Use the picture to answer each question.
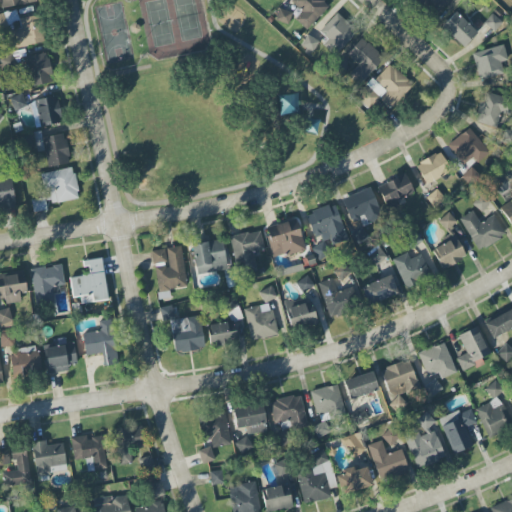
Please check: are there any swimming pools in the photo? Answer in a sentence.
Yes, this view includes a swimming pool.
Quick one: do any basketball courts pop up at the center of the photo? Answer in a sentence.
No, I see no basketball court at the center of the photo.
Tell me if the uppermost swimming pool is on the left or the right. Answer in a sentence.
It is on the left.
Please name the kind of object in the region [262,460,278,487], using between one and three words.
swimming pool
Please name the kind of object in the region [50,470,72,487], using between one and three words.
swimming pool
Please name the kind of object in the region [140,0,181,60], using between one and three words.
tennis court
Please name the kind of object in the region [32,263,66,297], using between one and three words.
house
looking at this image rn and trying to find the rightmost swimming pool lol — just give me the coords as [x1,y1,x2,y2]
[447,394,469,410]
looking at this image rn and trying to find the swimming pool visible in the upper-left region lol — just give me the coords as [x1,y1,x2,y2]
[17,100,37,130]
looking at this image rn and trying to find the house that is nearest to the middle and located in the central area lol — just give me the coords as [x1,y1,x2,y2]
[229,228,265,264]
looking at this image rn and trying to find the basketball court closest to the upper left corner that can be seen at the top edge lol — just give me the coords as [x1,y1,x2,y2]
[96,2,134,63]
